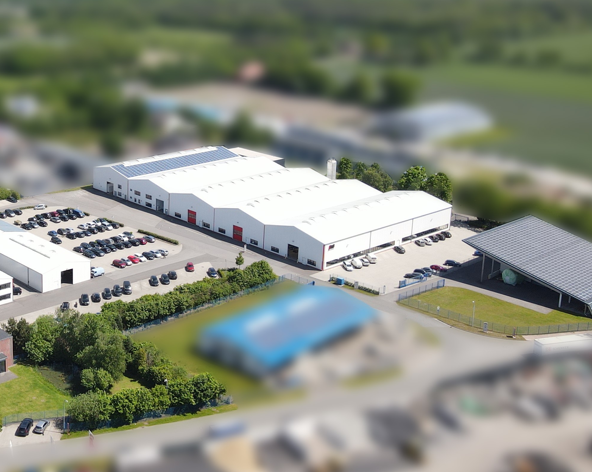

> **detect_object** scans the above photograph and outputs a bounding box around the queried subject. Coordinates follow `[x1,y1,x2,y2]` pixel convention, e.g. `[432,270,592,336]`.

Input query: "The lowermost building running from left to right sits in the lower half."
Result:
[194,294,385,392]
